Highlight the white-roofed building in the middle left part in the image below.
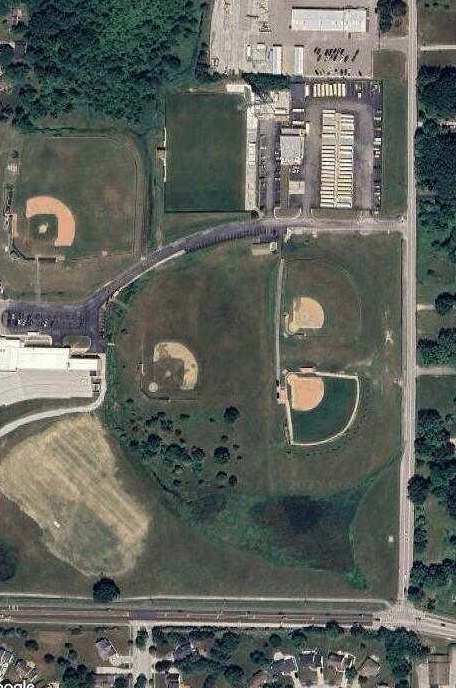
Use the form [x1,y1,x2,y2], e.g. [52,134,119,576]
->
[0,332,97,408]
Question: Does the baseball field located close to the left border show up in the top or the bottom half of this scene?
top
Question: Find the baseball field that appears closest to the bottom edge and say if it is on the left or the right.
right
